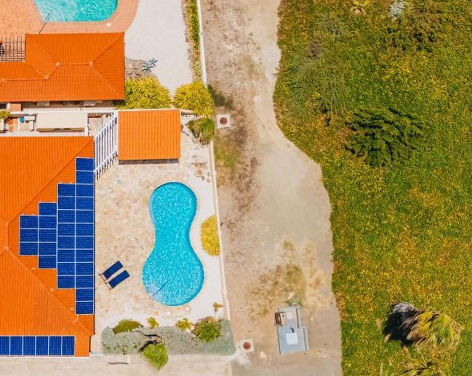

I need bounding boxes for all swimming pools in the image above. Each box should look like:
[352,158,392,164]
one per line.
[143,182,208,306]
[29,0,122,28]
